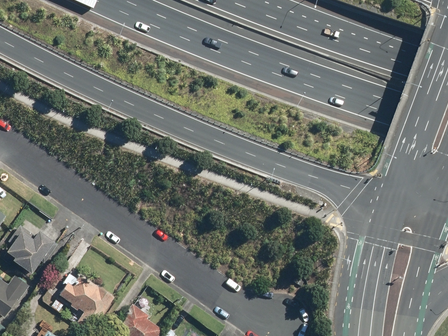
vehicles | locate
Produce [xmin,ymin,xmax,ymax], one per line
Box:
[154,229,168,240]
[298,308,309,322]
[296,323,308,336]
[0,189,6,198]
[224,278,239,290]
[172,315,184,329]
[282,66,298,77]
[329,96,344,106]
[0,119,10,130]
[76,0,96,8]
[329,30,340,38]
[204,38,220,49]
[160,270,174,282]
[214,306,228,318]
[244,330,256,336]
[105,232,120,243]
[36,184,50,196]
[135,22,150,32]
[262,292,274,298]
